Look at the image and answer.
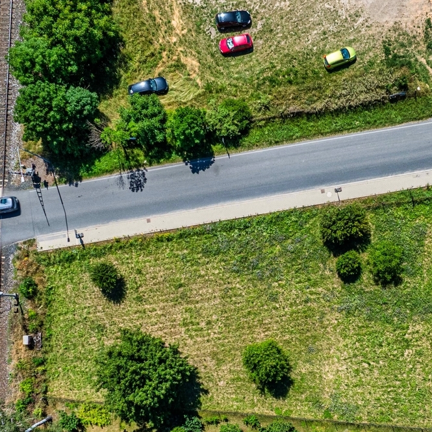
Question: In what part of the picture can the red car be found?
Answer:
top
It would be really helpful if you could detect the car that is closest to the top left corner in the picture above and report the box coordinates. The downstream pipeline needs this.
[129,76,168,98]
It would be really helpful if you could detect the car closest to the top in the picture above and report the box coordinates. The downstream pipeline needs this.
[216,11,251,31]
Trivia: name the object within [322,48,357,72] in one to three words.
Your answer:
car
